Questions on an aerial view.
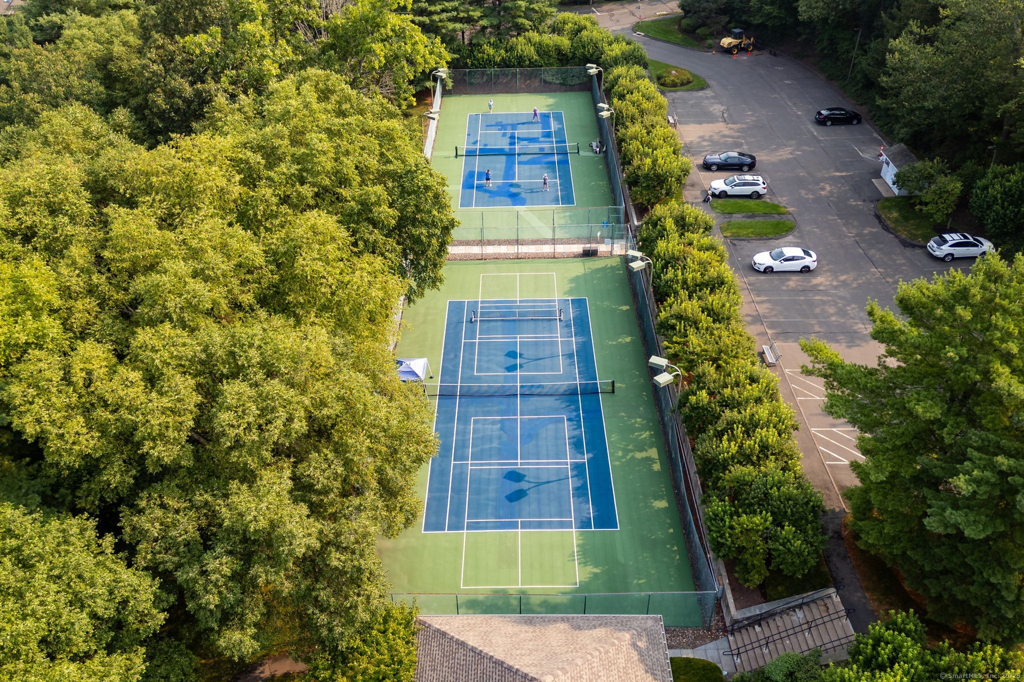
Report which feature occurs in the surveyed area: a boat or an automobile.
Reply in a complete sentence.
Visible in the photo is an automobile.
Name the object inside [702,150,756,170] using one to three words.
car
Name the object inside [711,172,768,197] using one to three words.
car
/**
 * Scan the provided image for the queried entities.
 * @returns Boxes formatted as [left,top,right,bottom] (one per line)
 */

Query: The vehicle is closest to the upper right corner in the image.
[814,106,863,124]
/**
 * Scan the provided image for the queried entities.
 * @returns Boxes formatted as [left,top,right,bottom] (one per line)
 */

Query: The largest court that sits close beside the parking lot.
[362,258,701,628]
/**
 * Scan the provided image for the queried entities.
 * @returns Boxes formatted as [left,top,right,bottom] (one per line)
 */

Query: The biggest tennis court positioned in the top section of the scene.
[433,92,622,240]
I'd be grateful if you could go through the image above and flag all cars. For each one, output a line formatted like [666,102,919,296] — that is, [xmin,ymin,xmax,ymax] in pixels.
[711,172,768,197]
[752,245,817,271]
[814,106,863,124]
[926,229,993,259]
[702,150,756,170]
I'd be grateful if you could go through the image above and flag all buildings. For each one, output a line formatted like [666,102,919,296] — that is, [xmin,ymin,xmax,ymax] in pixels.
[410,612,676,682]
[880,142,924,195]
